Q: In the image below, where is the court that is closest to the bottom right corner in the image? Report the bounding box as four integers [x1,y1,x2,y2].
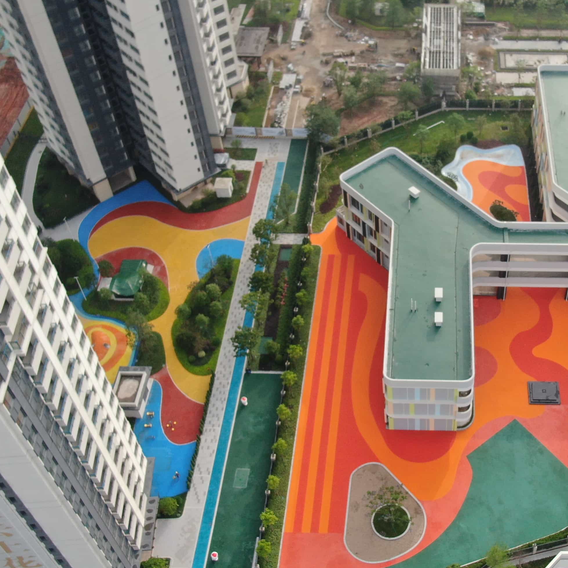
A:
[281,405,568,568]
